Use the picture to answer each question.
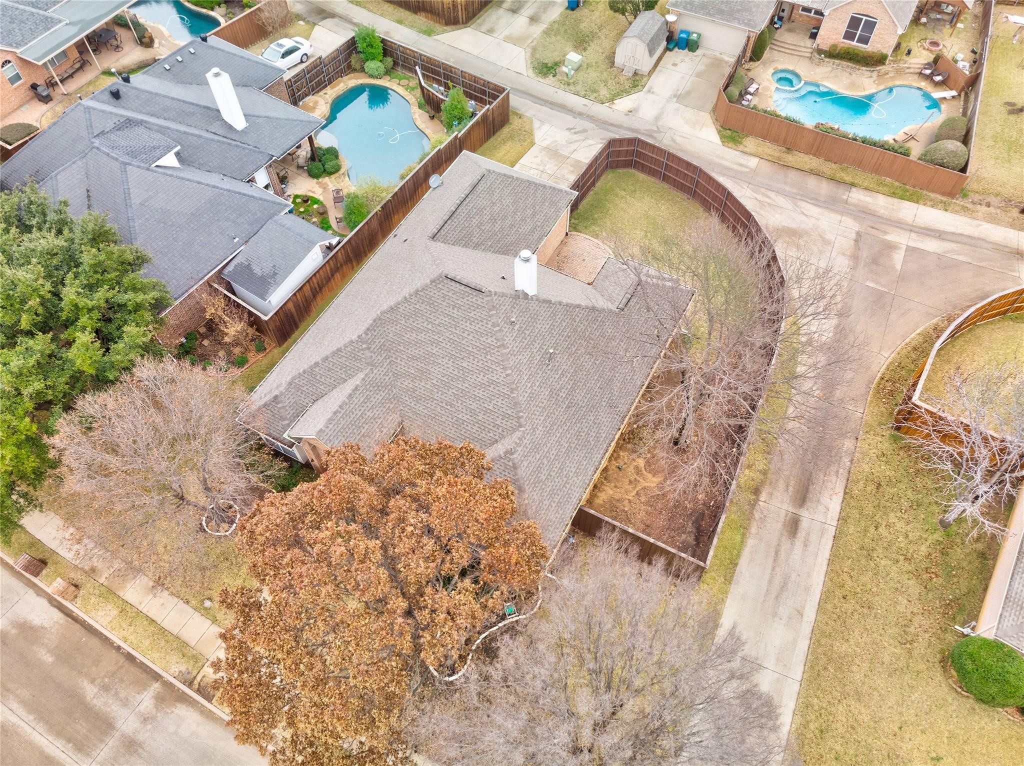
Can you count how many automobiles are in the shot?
1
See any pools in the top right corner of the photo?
Yes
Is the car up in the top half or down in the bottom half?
top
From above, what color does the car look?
white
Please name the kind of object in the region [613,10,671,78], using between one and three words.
shed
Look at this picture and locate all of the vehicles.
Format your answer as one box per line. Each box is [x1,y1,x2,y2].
[257,38,314,67]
